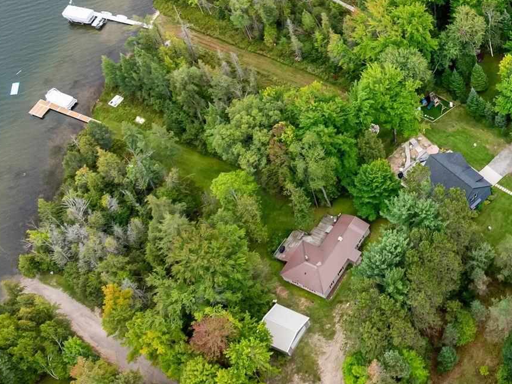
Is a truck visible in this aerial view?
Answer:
No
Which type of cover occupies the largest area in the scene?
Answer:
trees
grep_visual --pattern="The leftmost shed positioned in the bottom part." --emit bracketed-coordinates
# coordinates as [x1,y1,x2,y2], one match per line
[260,303,311,357]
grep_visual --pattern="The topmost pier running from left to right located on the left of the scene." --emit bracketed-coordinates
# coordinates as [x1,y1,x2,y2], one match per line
[92,9,159,28]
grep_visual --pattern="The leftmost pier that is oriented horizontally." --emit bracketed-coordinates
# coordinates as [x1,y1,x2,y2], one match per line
[30,100,101,123]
